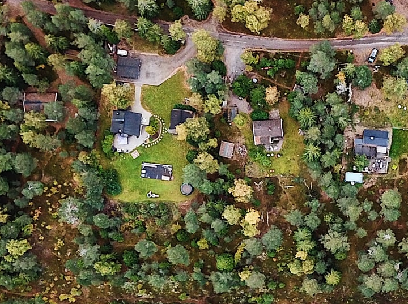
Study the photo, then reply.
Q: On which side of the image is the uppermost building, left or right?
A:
left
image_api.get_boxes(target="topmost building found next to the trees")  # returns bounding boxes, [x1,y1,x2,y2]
[117,56,142,80]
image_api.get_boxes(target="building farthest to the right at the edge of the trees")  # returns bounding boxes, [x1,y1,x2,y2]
[356,129,390,158]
